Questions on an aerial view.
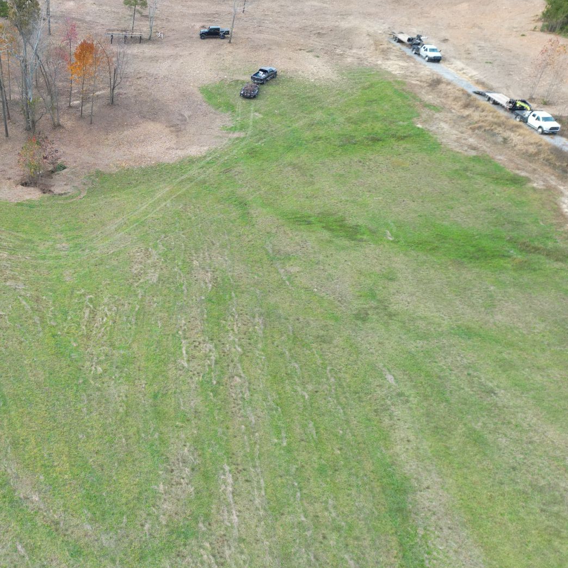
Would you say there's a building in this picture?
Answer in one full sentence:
No, I can see no building in this picture.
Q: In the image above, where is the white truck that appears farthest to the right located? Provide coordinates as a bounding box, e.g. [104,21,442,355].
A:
[512,109,558,133]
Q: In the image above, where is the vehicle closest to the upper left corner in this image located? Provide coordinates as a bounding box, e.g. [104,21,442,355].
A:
[199,23,231,38]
